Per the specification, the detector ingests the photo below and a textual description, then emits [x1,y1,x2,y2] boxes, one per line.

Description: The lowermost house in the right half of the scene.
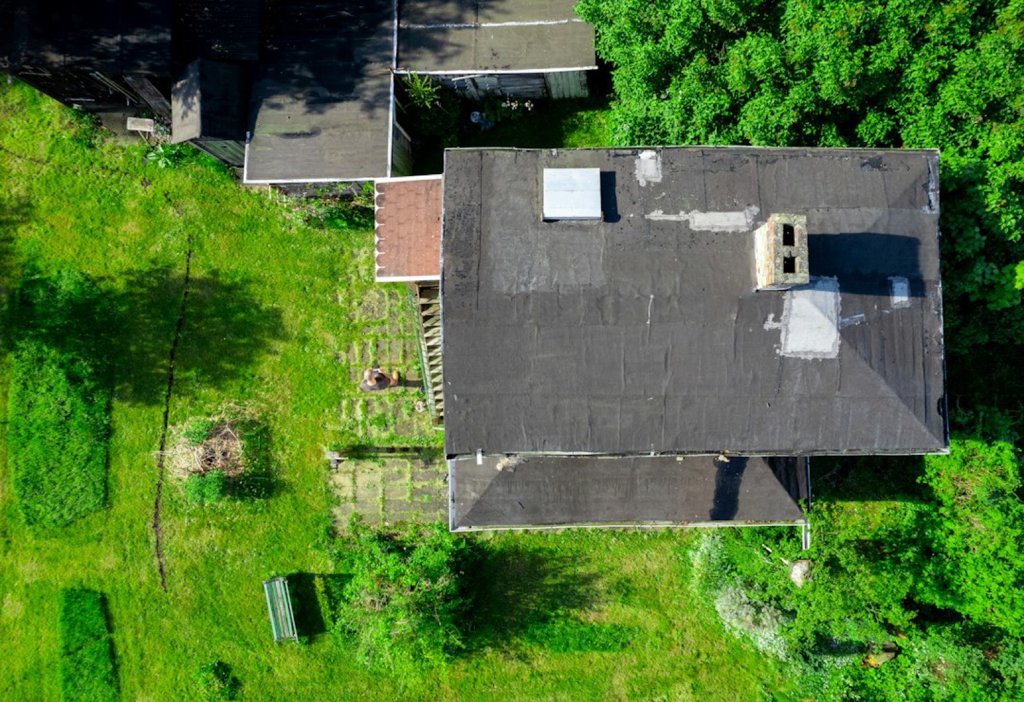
[375,144,952,551]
